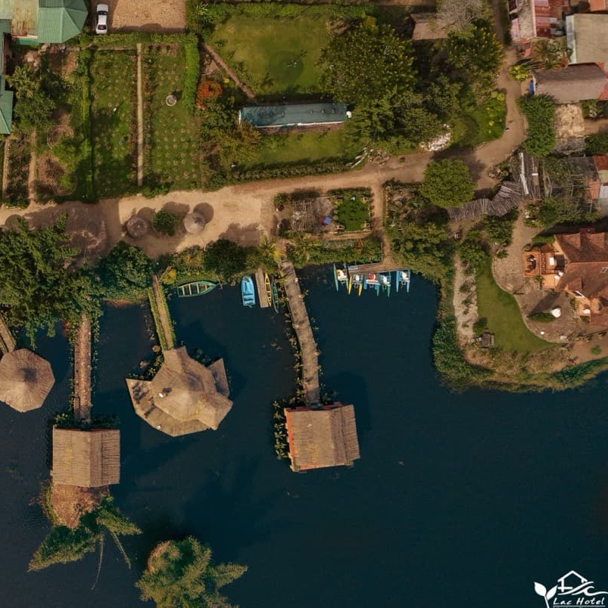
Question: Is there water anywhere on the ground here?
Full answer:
Yes, the picture does contain water.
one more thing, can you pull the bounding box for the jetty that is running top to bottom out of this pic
[254,269,271,309]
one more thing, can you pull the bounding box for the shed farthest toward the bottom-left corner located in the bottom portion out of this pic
[52,427,121,487]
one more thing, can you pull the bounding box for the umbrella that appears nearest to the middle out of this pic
[182,211,206,234]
